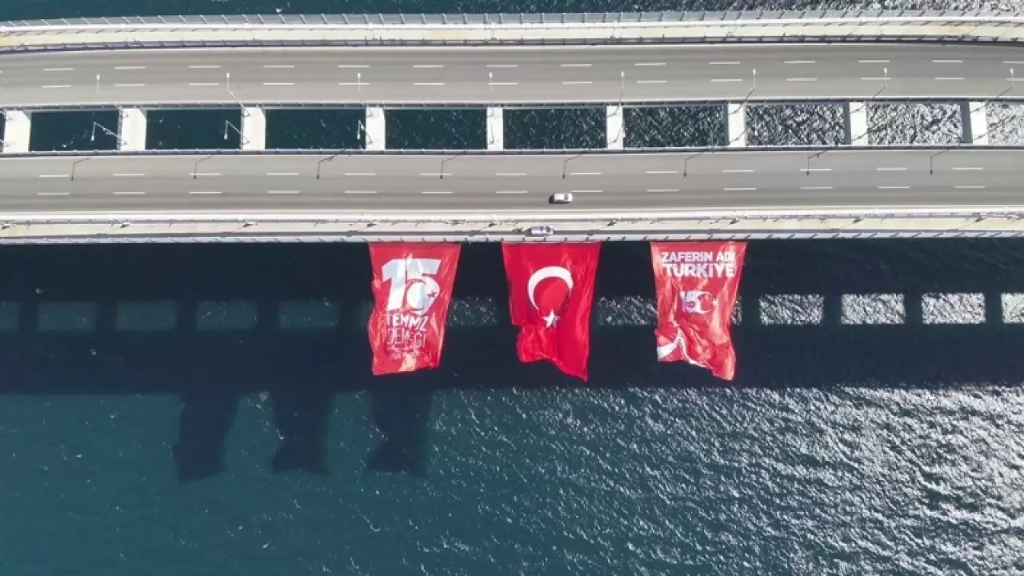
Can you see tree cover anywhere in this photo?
No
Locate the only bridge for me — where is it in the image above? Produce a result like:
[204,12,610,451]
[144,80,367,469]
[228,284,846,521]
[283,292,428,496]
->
[0,17,1024,245]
